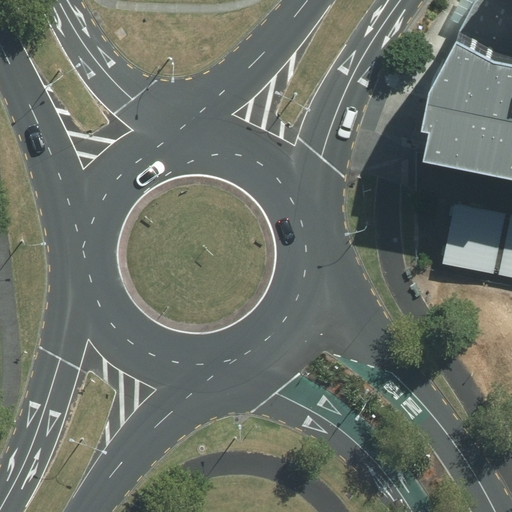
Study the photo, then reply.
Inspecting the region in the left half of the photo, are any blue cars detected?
No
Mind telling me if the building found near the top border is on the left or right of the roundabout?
on the right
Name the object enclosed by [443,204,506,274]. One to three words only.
shed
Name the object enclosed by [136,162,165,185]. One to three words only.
car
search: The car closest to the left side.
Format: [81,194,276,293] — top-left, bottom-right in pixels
[28,125,44,156]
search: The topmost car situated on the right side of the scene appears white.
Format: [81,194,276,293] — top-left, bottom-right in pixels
[339,106,357,138]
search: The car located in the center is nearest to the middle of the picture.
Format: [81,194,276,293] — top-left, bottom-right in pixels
[278,218,294,245]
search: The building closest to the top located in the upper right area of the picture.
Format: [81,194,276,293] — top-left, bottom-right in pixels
[422,0,512,180]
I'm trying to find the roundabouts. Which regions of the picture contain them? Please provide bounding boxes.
[48,116,335,392]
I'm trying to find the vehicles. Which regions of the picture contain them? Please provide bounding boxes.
[339,106,357,138]
[278,218,294,245]
[28,125,44,156]
[136,162,165,185]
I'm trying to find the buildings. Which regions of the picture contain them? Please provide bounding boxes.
[422,0,512,180]
[497,216,512,278]
[443,204,506,274]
